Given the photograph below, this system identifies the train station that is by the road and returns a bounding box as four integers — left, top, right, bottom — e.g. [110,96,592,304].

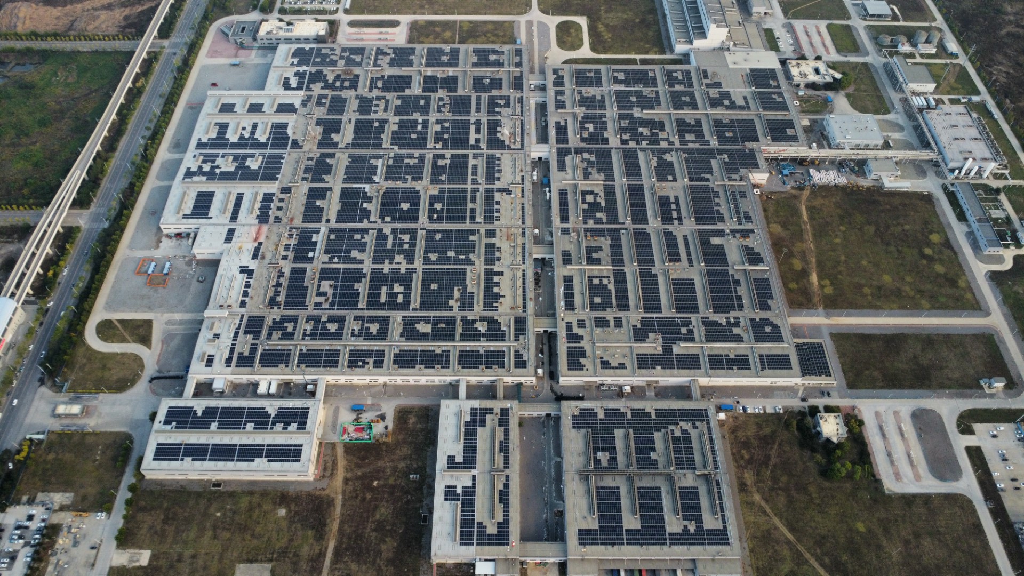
[0,302,34,385]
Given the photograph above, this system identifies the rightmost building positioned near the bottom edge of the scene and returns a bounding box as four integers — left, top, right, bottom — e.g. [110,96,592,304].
[560,401,744,576]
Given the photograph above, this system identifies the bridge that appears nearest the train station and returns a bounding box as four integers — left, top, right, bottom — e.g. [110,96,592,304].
[0,0,175,315]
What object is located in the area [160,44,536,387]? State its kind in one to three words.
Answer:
building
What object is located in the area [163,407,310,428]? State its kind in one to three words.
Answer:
solar array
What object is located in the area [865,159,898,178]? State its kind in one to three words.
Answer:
building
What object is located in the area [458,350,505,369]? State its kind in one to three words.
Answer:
solar array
